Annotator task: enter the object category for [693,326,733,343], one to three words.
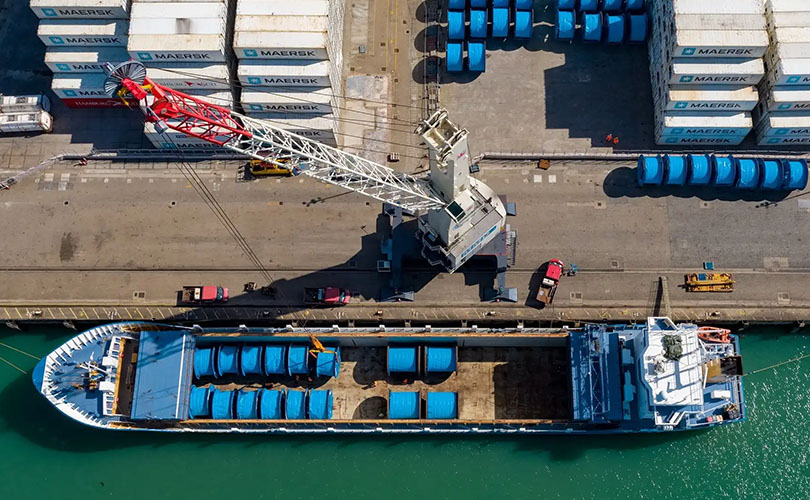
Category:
boat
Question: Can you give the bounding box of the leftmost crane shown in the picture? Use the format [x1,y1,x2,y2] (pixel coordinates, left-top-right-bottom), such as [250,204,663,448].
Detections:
[104,63,522,350]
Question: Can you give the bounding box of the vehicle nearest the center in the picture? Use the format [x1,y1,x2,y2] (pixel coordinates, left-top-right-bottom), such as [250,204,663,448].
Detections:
[301,287,350,305]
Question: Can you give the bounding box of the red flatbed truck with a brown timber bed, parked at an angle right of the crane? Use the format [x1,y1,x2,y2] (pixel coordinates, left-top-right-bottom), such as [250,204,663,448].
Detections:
[531,258,560,306]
